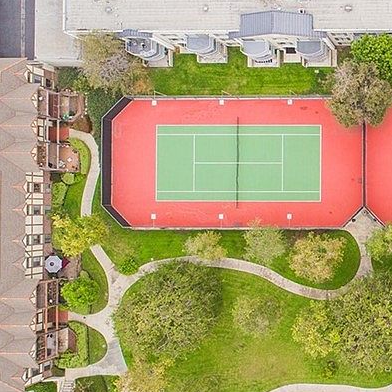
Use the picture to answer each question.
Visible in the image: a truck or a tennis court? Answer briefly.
tennis court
